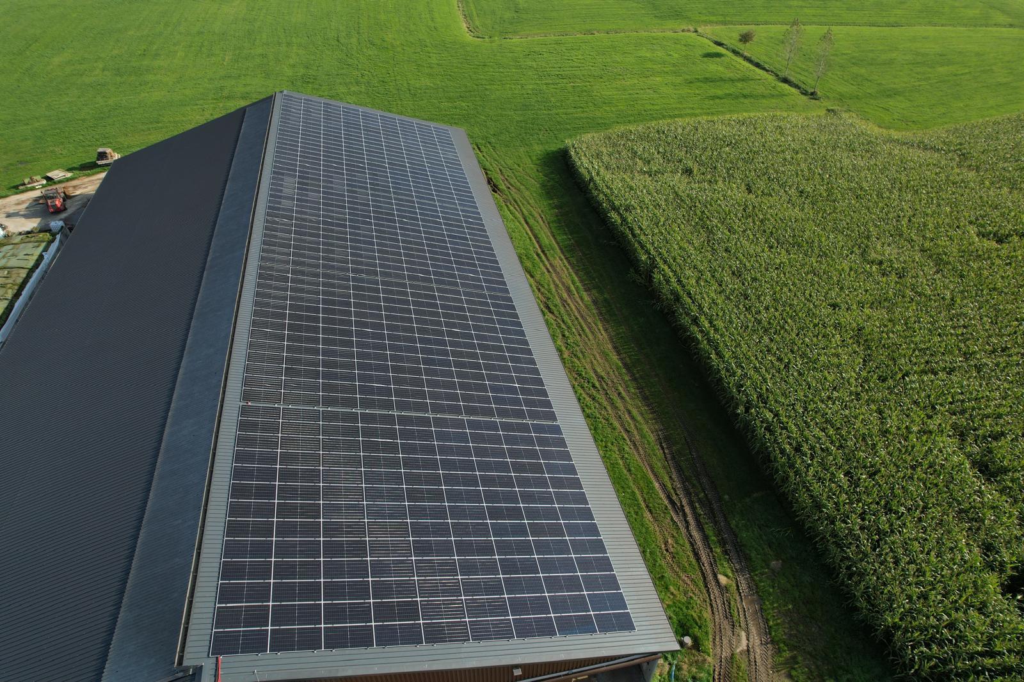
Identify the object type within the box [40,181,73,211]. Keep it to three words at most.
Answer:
work vehicle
